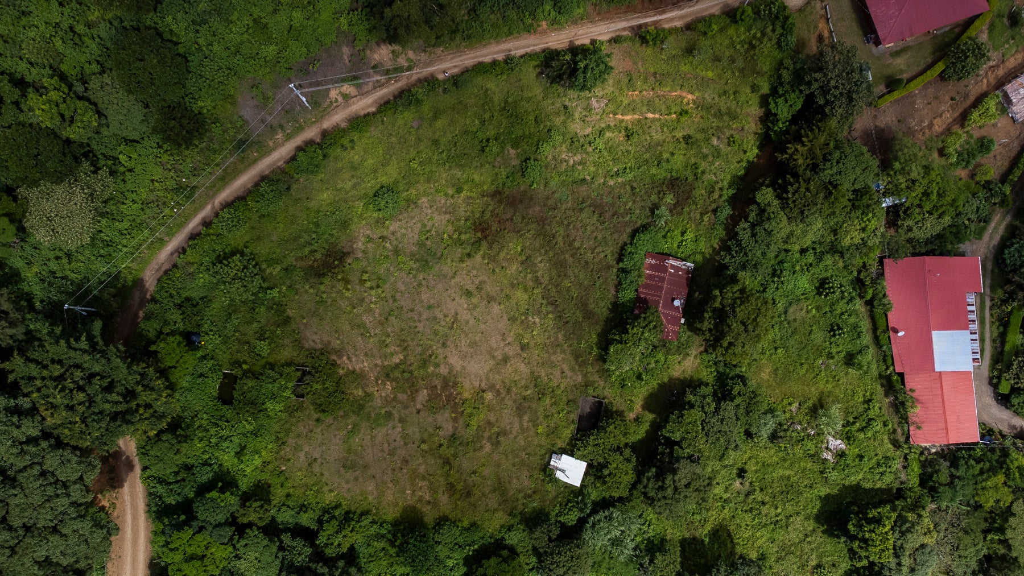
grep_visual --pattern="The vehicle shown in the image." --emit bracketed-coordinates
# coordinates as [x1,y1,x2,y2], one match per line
[861,34,882,50]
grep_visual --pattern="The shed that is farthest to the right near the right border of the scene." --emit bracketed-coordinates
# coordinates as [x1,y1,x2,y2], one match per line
[996,74,1024,121]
